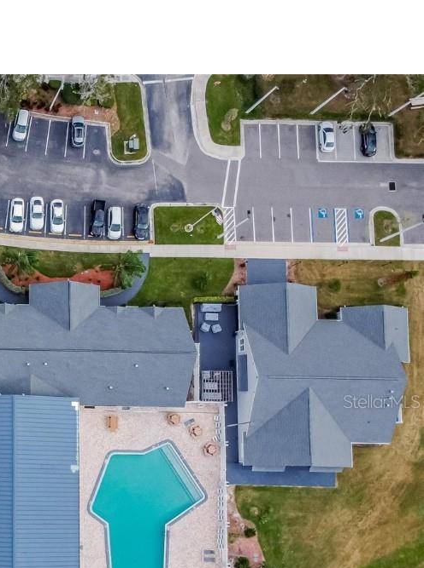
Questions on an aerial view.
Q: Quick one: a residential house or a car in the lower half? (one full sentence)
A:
There is a residential house in the lower half.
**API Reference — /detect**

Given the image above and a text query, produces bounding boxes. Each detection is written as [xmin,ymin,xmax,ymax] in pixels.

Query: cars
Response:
[10,197,26,230]
[320,120,340,151]
[108,206,124,237]
[14,106,32,141]
[31,196,47,229]
[361,122,382,154]
[136,204,153,237]
[51,198,67,231]
[72,114,88,146]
